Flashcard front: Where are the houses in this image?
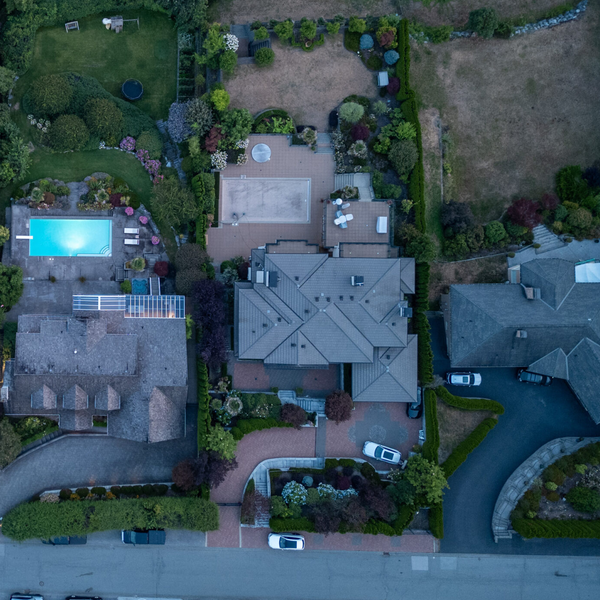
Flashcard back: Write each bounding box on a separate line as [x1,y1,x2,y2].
[437,259,600,424]
[231,249,418,403]
[0,309,190,444]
